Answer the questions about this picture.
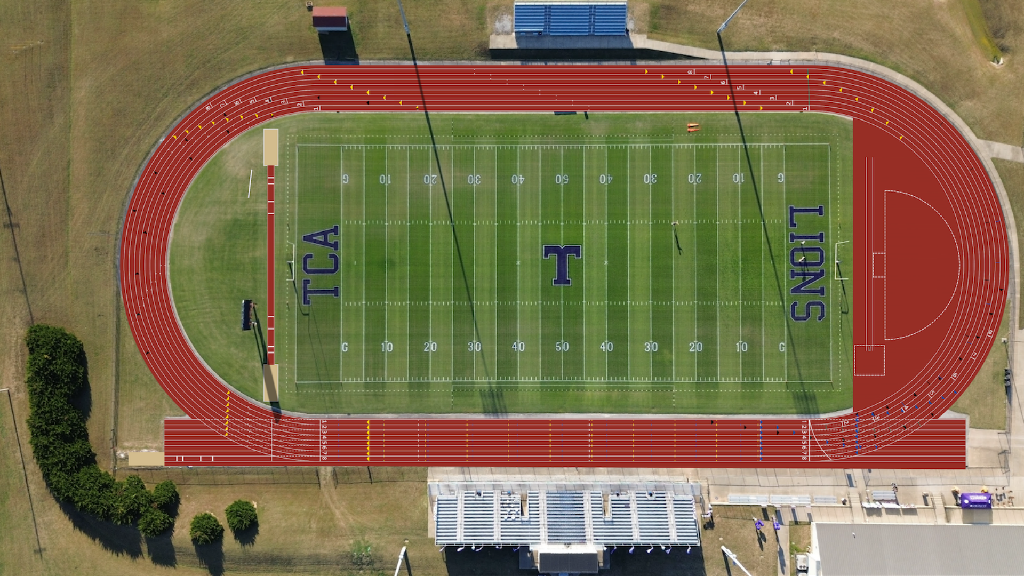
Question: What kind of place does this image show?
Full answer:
The picture captures a sports ground.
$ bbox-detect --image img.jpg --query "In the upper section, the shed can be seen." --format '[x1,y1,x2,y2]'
[312,7,347,33]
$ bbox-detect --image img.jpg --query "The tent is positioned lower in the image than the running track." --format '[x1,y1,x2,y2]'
[956,491,991,508]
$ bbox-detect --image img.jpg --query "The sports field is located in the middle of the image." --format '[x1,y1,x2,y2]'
[170,113,853,413]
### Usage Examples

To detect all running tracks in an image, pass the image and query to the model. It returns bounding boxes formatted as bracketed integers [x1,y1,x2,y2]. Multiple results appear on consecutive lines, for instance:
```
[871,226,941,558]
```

[120,65,1009,469]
